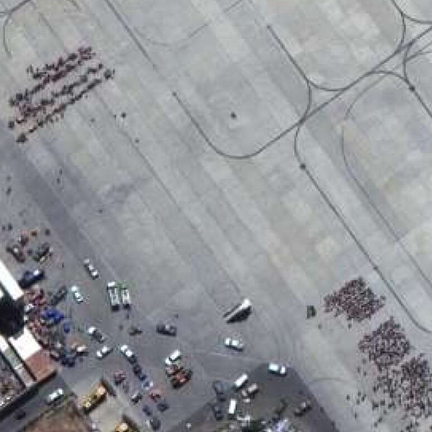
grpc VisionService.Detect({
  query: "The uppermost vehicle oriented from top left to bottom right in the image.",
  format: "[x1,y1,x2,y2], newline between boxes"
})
[8,241,24,261]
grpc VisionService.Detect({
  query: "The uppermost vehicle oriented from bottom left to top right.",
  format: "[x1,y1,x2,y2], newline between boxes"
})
[32,244,51,261]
